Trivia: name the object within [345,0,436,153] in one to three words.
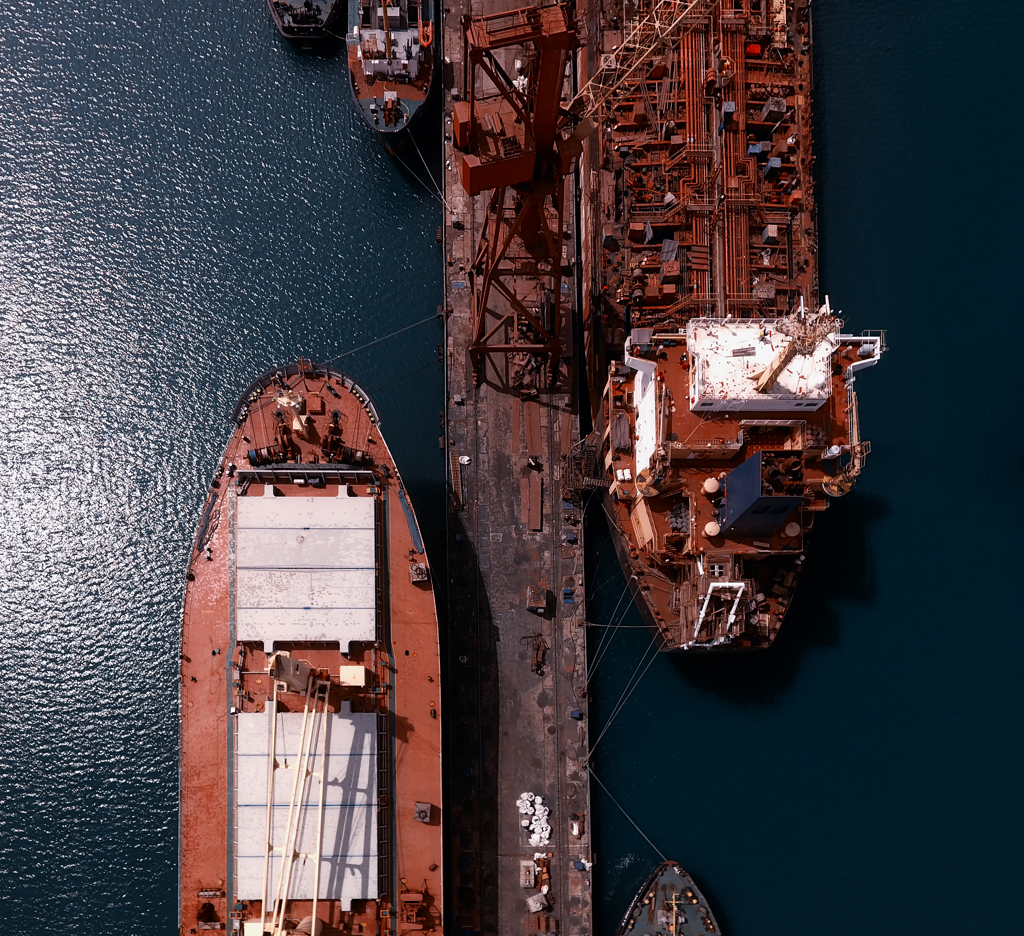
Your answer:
ship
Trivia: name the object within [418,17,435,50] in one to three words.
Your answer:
boat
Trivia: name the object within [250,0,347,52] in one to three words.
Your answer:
boat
